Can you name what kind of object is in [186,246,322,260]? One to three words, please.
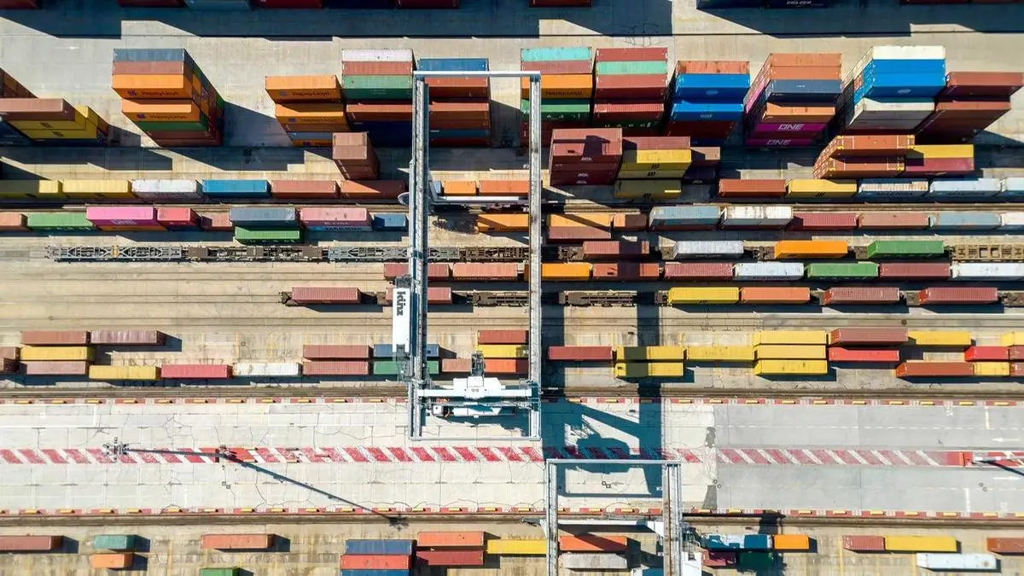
rail car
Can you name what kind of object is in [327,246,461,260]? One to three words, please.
rail car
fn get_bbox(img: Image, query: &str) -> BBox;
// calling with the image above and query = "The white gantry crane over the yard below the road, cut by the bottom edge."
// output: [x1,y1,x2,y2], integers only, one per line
[534,460,701,576]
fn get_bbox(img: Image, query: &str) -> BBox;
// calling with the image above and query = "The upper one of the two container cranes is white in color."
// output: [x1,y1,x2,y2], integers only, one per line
[392,70,543,441]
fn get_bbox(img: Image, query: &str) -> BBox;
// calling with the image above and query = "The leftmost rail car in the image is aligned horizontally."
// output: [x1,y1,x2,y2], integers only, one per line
[46,246,183,260]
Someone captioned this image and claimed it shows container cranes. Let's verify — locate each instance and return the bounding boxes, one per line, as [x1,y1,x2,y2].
[392,70,543,441]
[534,460,701,576]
